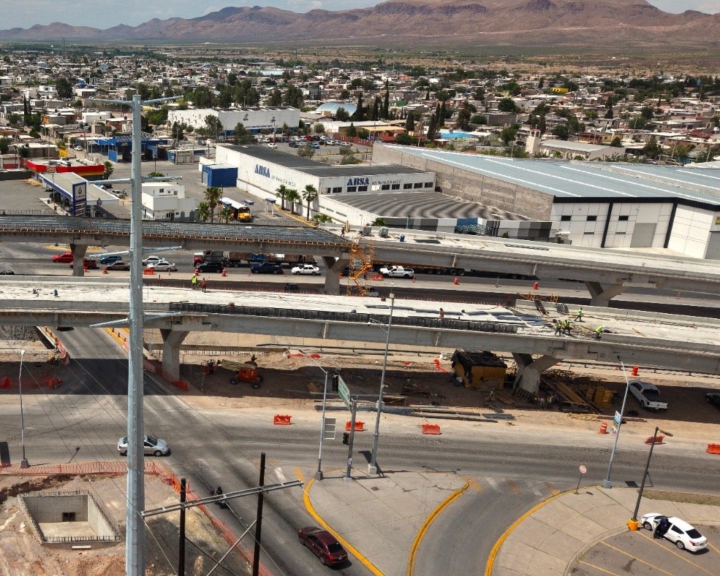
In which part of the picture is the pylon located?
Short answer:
left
